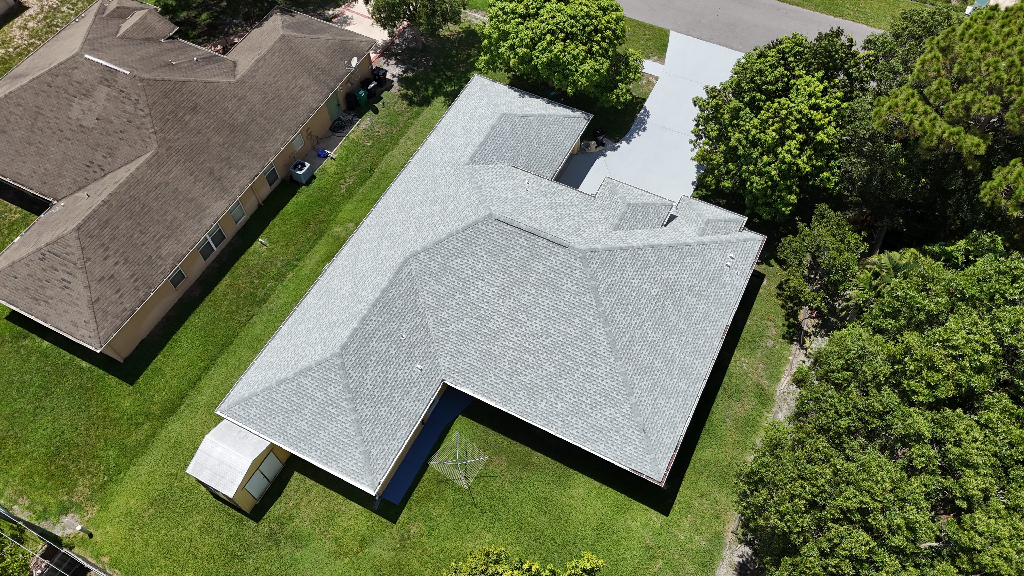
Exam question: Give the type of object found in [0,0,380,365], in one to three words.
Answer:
house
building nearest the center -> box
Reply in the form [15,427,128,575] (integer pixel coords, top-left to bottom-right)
[215,74,766,507]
